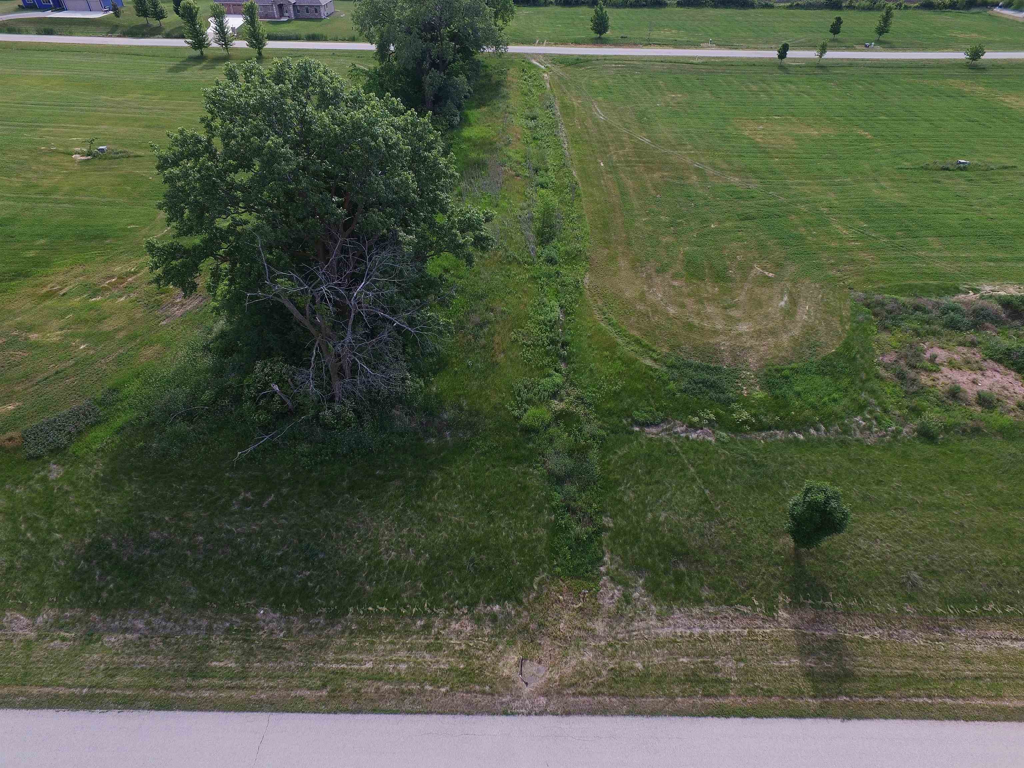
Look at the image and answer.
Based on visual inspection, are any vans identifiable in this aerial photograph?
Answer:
No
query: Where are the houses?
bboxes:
[30,0,125,11]
[215,0,331,20]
